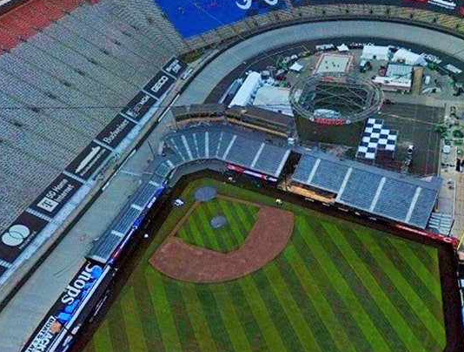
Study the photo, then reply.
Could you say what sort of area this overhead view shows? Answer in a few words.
sports ground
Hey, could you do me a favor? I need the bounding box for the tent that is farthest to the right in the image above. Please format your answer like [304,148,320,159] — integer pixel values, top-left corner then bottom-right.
[390,47,426,67]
